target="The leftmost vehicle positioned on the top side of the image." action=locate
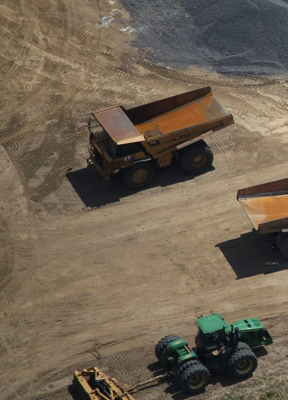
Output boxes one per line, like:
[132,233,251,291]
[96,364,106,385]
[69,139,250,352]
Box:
[85,83,234,189]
